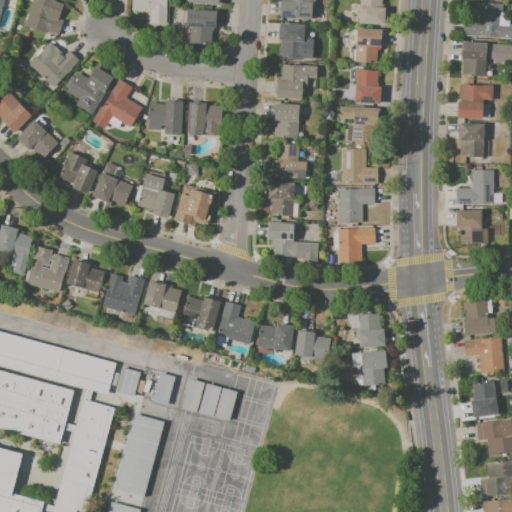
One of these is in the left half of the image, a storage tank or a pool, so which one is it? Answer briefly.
pool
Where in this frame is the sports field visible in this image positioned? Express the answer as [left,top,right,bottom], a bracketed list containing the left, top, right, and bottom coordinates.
[245,386,401,512]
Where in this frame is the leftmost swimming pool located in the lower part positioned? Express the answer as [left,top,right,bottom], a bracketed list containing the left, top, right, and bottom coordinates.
[184,326,212,344]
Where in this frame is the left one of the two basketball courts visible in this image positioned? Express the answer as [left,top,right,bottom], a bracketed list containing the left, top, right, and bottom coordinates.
[181,435,223,502]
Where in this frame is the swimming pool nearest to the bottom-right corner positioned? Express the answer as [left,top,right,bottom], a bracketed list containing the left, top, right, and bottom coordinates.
[262,350,292,368]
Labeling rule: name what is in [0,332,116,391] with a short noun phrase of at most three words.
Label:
building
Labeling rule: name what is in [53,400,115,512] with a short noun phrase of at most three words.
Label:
building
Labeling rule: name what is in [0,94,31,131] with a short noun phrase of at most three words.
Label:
house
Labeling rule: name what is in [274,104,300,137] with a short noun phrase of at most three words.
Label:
house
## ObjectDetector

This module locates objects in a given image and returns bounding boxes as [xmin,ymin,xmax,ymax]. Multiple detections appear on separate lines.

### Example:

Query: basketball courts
[181,435,223,502]
[214,444,255,512]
